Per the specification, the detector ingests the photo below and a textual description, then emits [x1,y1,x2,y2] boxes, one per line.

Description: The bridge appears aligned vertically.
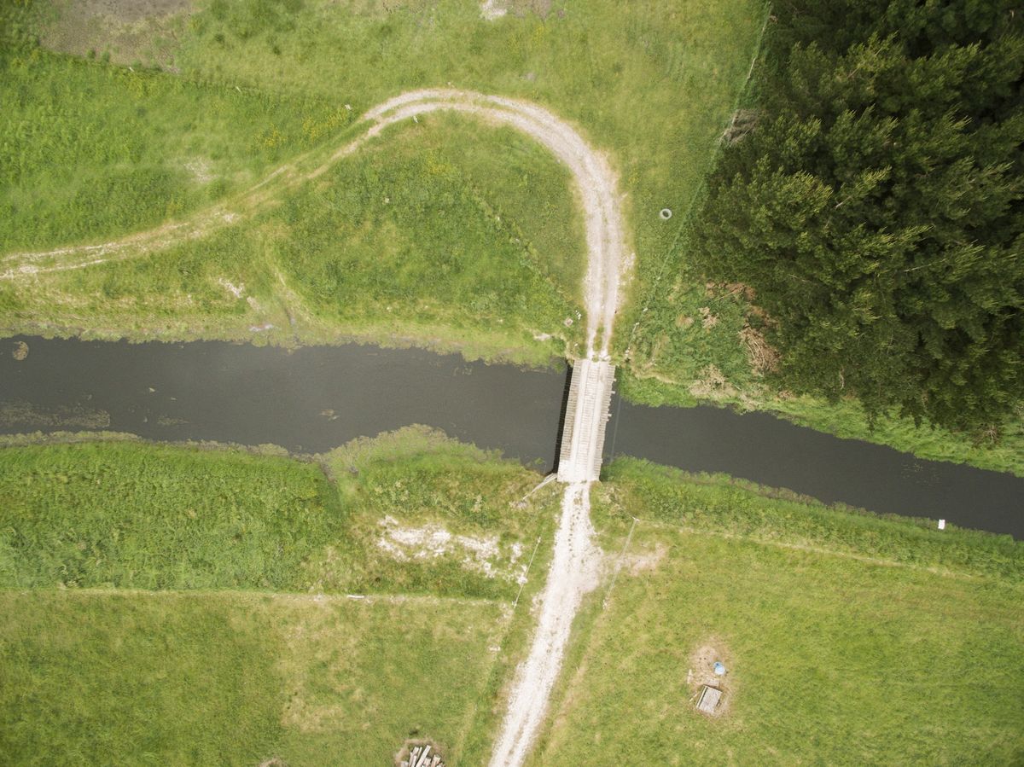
[556,358,617,486]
